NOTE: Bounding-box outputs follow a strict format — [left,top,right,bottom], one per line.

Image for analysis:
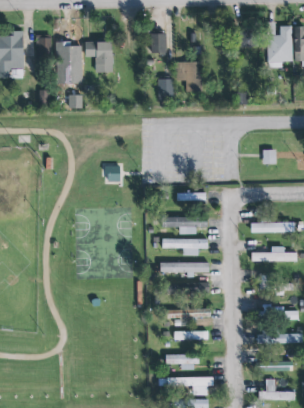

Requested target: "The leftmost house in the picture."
[0,30,24,79]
